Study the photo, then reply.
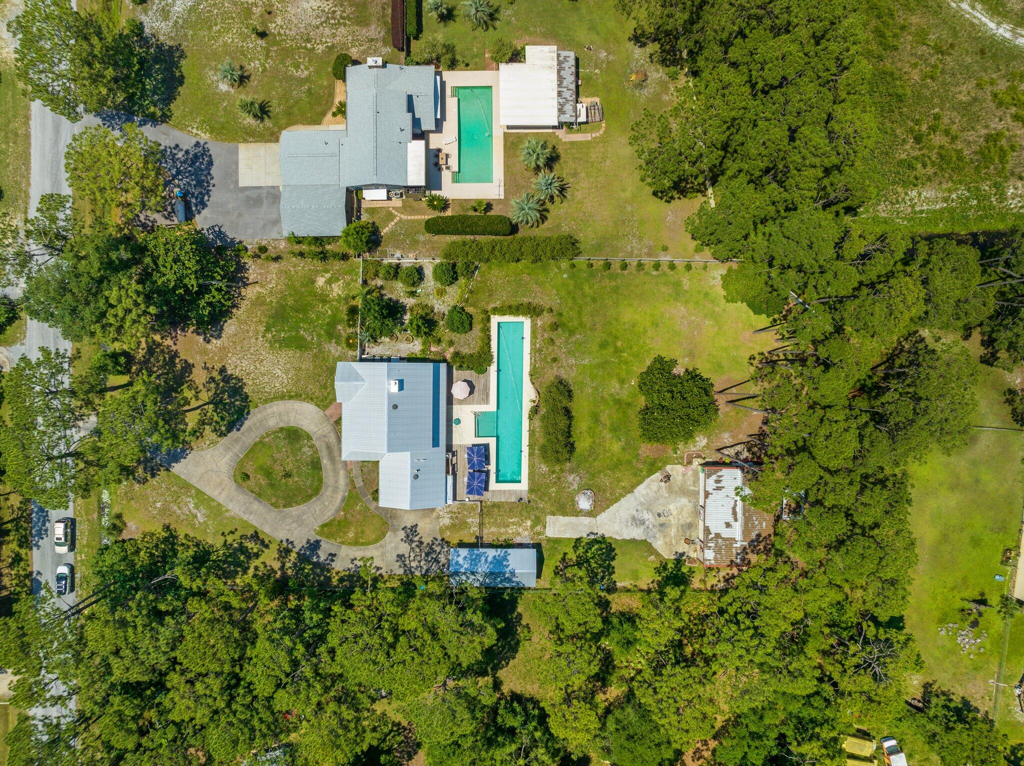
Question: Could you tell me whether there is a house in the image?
Yes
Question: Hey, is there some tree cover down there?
Yes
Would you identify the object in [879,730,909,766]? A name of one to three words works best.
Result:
truck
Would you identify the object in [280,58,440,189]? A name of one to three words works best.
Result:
house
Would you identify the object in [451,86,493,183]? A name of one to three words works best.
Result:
swimming pool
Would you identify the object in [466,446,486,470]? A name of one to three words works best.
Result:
umbrella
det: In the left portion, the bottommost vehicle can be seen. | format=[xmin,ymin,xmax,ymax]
[55,561,74,594]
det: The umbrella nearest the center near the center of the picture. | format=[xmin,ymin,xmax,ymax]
[452,381,470,399]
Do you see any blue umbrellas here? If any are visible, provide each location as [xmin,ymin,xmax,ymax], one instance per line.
[466,446,486,470]
[466,471,486,496]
